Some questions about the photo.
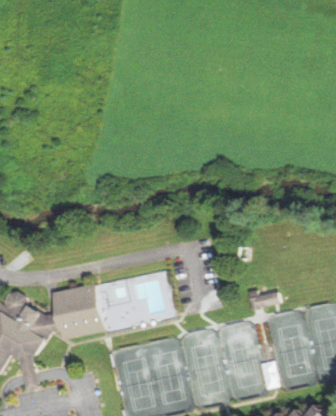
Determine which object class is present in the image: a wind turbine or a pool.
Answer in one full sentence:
Looking from above, you can make out a pool.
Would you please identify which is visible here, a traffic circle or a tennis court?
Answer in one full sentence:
The image shows a tennis court.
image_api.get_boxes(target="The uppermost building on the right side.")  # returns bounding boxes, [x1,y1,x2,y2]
[250,291,282,311]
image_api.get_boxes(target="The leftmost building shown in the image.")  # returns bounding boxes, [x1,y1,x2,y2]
[0,291,29,316]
